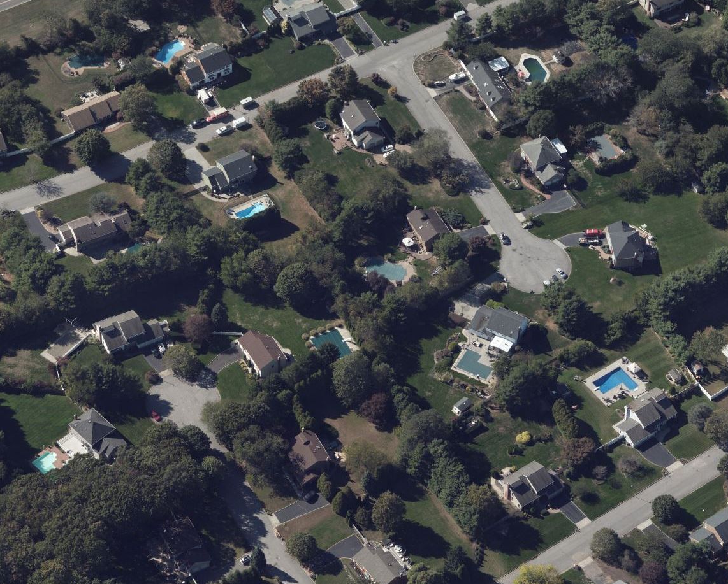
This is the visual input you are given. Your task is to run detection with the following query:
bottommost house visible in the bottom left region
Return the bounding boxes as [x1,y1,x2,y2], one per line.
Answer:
[155,522,210,579]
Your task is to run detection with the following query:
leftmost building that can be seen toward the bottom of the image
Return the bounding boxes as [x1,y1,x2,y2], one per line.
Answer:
[69,410,122,465]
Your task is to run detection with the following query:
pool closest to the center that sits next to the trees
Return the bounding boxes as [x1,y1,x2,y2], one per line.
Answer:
[367,259,408,281]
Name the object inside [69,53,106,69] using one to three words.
swimming pool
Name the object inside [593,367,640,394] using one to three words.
swimming pool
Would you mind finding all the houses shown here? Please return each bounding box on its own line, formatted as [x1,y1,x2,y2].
[237,327,287,379]
[618,396,678,451]
[61,88,127,136]
[459,62,512,113]
[602,221,644,269]
[207,153,256,195]
[338,99,385,152]
[179,44,232,88]
[409,207,452,250]
[356,541,406,584]
[696,510,728,559]
[288,428,330,490]
[285,4,331,43]
[519,135,562,190]
[467,306,534,351]
[92,314,165,357]
[503,466,565,515]
[69,410,122,465]
[155,522,210,579]
[56,211,128,251]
